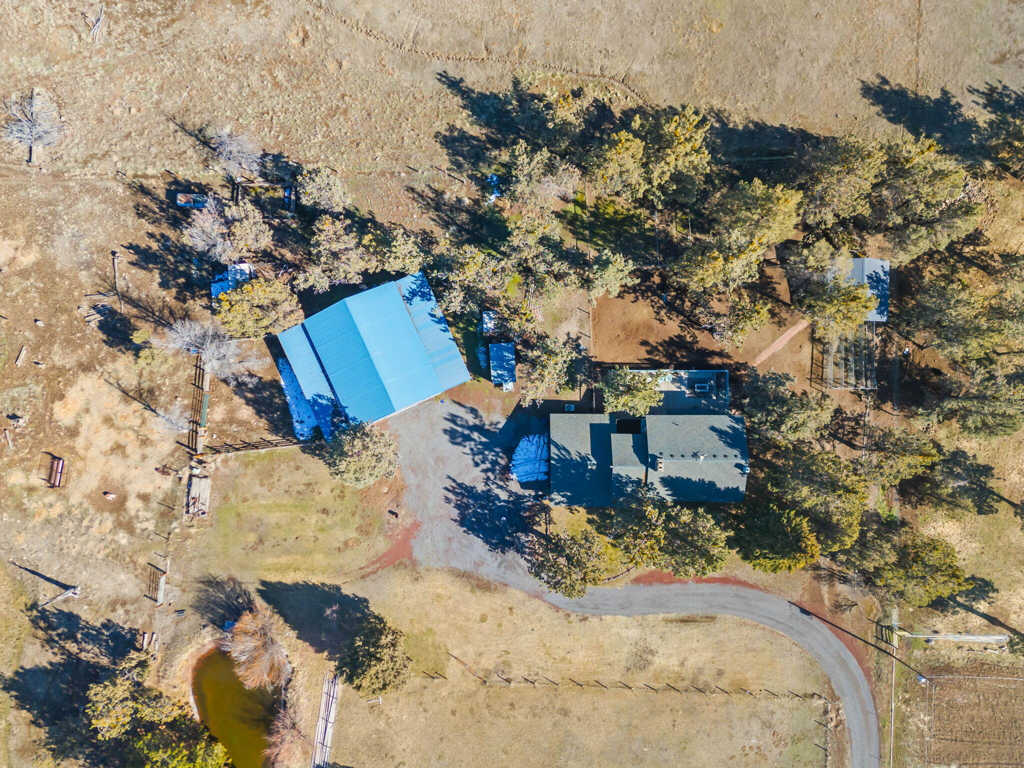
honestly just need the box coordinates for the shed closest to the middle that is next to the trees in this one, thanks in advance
[490,343,515,384]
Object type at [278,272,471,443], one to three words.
barn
